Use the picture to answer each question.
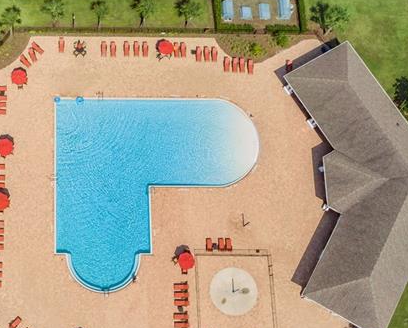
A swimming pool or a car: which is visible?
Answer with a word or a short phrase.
swimming pool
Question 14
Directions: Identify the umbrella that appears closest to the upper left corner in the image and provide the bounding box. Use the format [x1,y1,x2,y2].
[11,68,29,86]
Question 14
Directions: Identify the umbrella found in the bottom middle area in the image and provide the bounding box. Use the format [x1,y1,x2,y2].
[177,252,195,271]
